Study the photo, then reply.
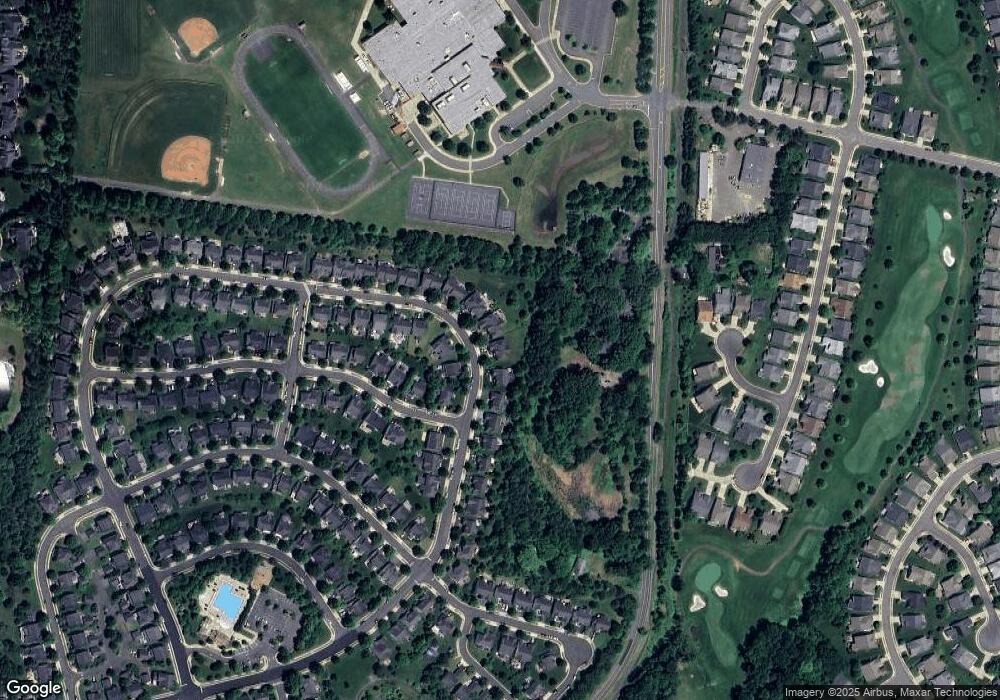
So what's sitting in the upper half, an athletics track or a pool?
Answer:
athletics track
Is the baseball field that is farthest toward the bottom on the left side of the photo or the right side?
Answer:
left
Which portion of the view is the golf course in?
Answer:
right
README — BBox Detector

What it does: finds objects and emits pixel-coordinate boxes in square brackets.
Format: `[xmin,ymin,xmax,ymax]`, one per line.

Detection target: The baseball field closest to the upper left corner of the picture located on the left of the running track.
[179,18,219,56]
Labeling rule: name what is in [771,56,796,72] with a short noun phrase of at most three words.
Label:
house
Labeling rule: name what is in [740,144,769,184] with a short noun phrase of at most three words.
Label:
building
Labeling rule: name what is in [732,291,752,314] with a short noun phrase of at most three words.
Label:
house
